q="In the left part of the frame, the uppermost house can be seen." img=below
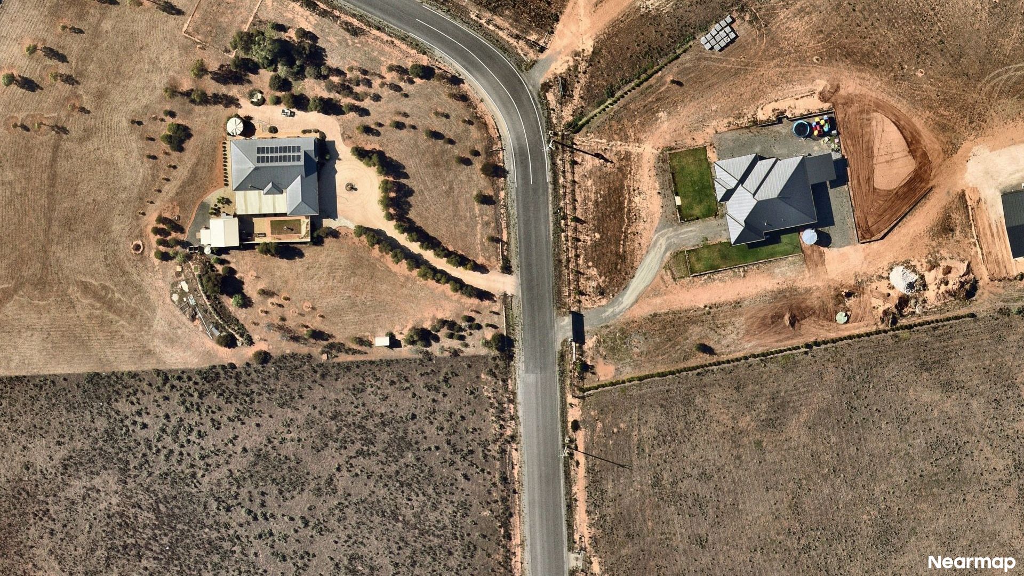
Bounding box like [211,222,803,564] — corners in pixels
[231,138,319,215]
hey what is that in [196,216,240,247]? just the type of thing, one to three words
shed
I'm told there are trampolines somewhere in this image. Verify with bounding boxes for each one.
[793,121,810,138]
